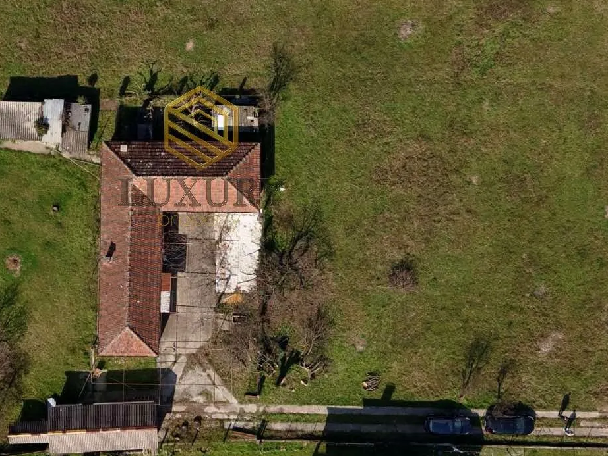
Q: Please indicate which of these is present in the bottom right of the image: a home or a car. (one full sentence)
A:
It is a car that can be seen in the bottom right of the image.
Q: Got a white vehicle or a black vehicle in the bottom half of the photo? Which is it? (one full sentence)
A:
The feature located in the bottom half of the photo is a black vehicle.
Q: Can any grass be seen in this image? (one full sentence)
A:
Yes, grass shows up in the scene.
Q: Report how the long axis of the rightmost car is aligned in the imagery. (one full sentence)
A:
From this overhead view, the rightmost car appears to run from left to right.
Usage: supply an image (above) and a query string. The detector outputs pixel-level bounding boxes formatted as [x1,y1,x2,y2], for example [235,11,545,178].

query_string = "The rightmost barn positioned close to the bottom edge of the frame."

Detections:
[48,399,158,455]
